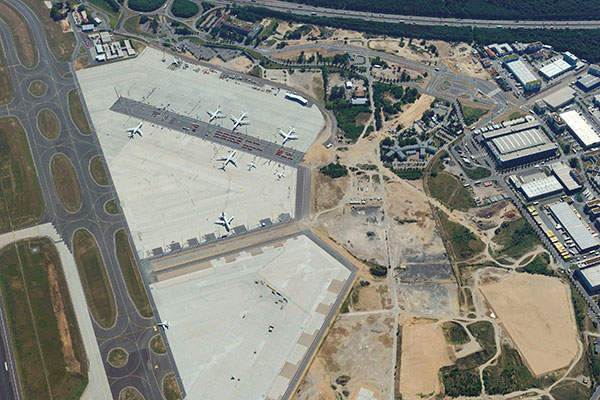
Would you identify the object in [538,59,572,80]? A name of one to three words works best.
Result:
building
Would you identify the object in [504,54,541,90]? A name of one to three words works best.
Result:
building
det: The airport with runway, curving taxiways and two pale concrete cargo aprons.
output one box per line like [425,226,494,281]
[0,0,358,400]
